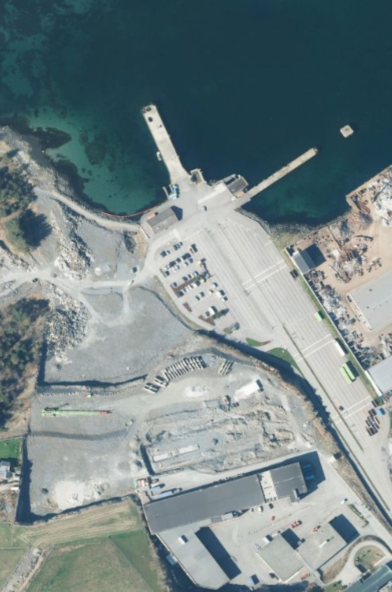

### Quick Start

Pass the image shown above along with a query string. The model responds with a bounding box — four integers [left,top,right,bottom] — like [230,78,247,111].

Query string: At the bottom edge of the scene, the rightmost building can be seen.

[347,567,392,592]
